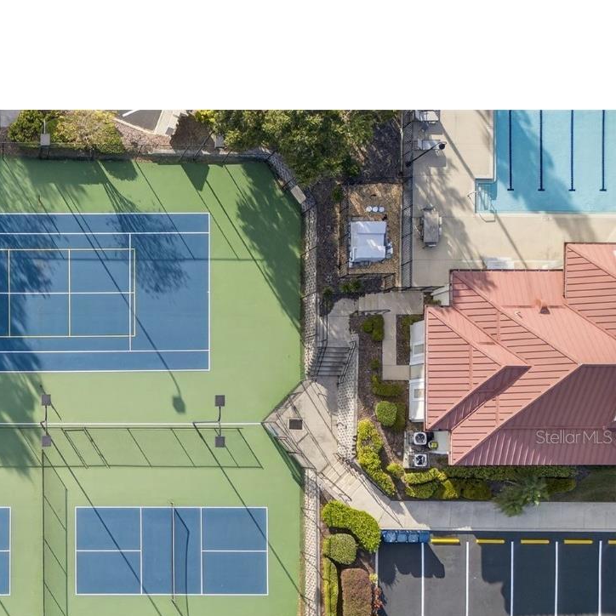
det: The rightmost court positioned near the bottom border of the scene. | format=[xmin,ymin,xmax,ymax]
[76,507,267,596]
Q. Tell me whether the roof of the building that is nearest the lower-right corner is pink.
Yes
